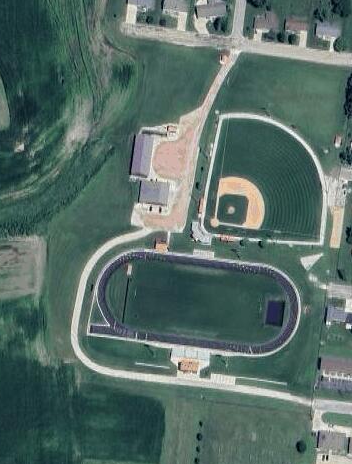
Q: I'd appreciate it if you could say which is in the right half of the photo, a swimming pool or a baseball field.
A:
baseball field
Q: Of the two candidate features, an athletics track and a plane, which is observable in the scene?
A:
athletics track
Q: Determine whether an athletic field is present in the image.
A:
Yes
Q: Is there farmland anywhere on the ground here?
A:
Yes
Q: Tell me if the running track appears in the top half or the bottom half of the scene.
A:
bottom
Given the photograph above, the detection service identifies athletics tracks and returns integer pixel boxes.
[88,249,301,356]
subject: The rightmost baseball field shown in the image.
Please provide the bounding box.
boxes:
[201,113,329,244]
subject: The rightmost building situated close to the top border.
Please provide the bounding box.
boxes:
[317,22,342,39]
